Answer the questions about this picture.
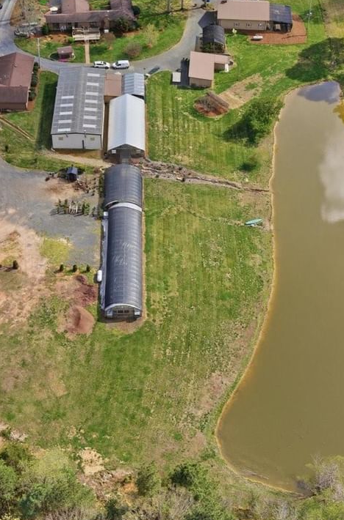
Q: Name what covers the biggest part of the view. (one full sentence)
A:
The scene is dominated by grass.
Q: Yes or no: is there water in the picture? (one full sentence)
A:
Yes, there is water in the image.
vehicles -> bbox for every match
[92,60,110,68]
[112,60,131,70]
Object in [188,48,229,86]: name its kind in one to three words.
shed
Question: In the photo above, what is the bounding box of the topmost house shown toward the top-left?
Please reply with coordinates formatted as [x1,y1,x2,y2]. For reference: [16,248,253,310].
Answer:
[44,0,136,45]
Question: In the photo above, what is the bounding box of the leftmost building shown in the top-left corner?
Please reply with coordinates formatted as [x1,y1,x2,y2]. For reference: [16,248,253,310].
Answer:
[0,50,34,110]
